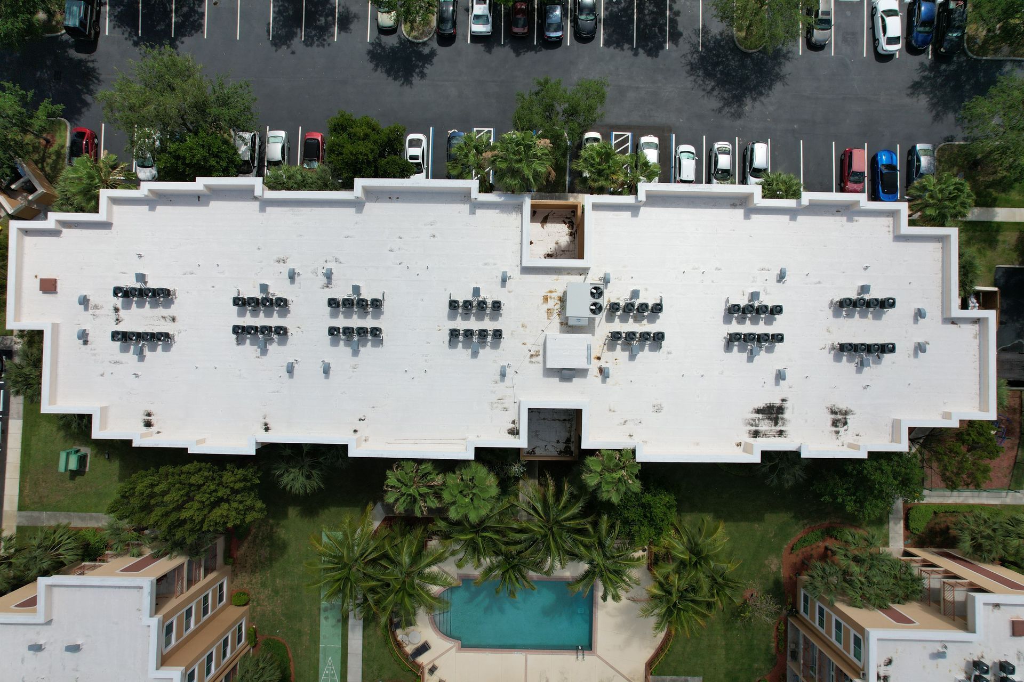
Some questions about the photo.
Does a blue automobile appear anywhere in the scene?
Yes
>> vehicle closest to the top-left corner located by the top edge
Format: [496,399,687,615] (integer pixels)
[66,0,100,45]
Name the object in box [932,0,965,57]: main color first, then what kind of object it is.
black car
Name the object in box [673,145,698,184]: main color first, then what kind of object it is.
white car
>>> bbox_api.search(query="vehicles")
[580,132,602,149]
[264,131,292,173]
[66,0,100,45]
[235,131,261,177]
[673,145,698,184]
[869,0,900,57]
[540,0,566,42]
[932,0,965,57]
[807,0,835,47]
[908,0,938,51]
[303,132,327,169]
[745,142,770,189]
[709,142,735,185]
[635,136,661,180]
[872,149,904,202]
[471,0,493,38]
[572,0,598,39]
[374,0,400,32]
[436,0,459,38]
[68,127,100,167]
[908,144,935,186]
[404,133,429,179]
[840,149,868,193]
